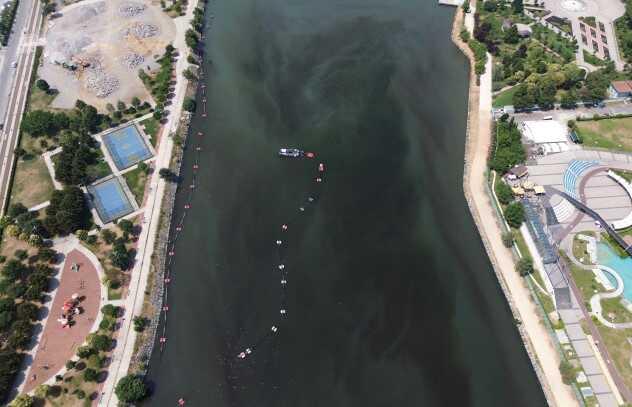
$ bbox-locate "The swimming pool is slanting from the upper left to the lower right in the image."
[596,242,632,303]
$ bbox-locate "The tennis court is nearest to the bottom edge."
[86,172,134,224]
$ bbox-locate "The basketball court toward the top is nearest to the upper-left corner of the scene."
[100,120,152,169]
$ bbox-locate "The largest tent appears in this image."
[523,120,567,146]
